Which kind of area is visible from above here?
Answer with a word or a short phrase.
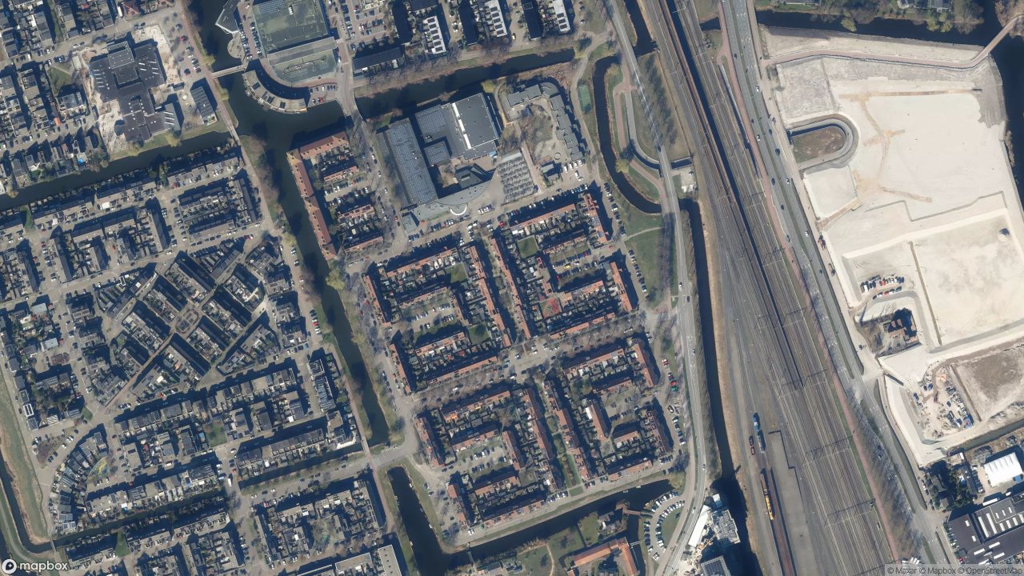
residential area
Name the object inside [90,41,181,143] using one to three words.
building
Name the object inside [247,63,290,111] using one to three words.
building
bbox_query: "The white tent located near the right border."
[984,453,1020,485]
